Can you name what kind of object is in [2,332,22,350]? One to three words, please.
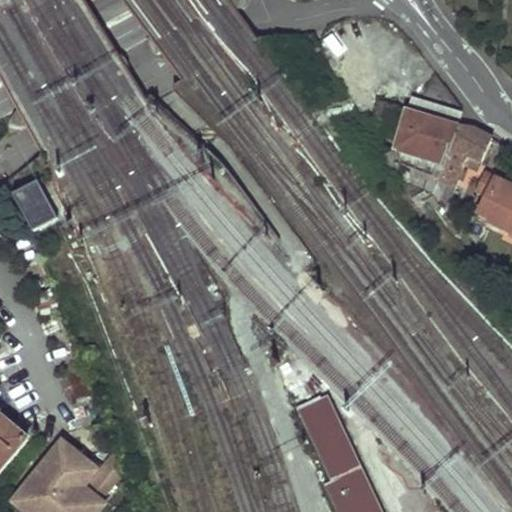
car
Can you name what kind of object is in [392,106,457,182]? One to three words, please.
house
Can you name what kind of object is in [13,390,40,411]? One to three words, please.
vehicle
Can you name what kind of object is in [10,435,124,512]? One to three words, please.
house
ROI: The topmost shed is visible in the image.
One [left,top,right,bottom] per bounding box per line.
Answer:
[322,32,348,60]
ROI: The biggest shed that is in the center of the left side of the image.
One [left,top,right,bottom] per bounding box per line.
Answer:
[11,178,60,230]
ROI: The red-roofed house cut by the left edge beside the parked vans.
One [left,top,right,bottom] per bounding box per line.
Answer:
[0,410,30,480]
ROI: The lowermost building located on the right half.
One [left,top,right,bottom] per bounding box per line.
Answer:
[296,394,382,512]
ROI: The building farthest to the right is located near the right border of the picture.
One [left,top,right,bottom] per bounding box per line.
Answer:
[468,168,512,250]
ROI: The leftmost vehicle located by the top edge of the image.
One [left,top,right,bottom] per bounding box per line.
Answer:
[349,20,364,39]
